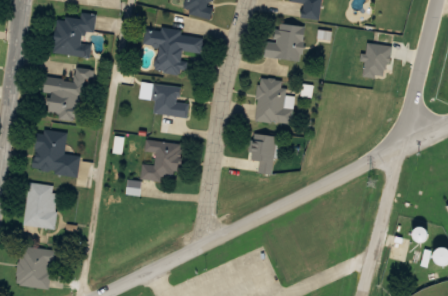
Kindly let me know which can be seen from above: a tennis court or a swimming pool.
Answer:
swimming pool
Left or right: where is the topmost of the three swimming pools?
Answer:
right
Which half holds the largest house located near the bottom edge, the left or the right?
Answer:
left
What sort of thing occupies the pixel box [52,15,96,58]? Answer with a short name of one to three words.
house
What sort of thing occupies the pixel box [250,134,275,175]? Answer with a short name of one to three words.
house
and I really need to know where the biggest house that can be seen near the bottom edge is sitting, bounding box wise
[16,246,52,290]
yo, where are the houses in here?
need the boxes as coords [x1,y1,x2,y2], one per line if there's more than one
[362,42,393,80]
[34,128,81,177]
[250,134,275,175]
[256,78,292,124]
[142,25,202,74]
[25,184,57,230]
[181,0,211,21]
[52,15,96,58]
[140,140,182,183]
[292,0,322,20]
[16,246,52,290]
[44,68,96,123]
[264,24,306,62]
